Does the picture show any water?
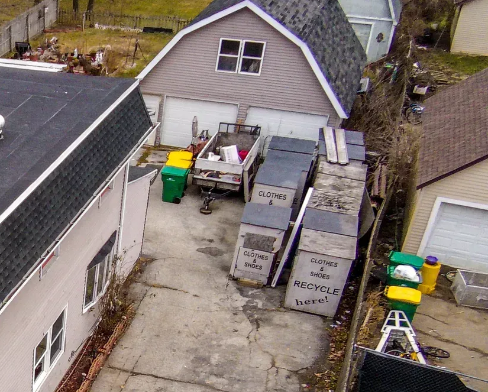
No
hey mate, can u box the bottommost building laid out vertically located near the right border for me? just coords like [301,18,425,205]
[408,80,488,265]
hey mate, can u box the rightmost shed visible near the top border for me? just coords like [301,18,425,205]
[447,0,488,55]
